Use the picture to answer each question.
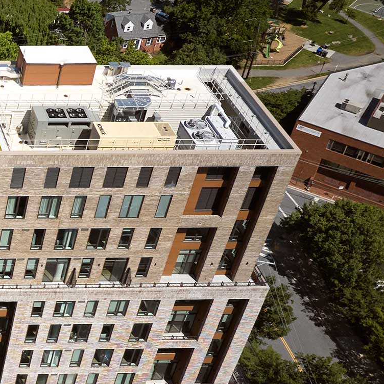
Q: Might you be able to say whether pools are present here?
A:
No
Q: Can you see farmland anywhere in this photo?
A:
No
